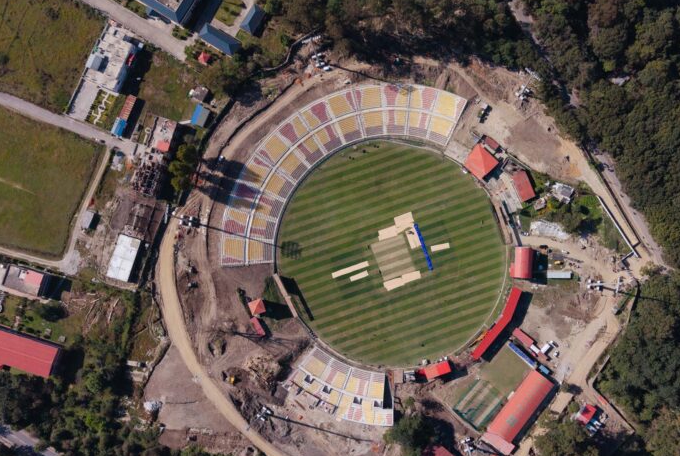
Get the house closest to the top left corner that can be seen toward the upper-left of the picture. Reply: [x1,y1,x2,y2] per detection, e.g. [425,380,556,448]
[86,26,146,89]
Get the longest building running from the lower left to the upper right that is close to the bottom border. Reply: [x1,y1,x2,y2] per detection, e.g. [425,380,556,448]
[487,369,555,442]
